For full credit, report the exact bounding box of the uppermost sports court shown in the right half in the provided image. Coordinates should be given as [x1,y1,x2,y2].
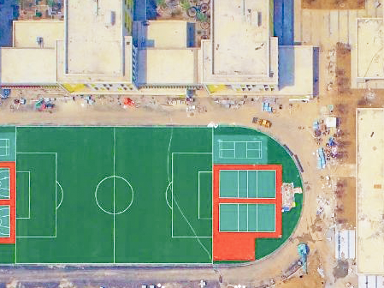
[213,135,267,164]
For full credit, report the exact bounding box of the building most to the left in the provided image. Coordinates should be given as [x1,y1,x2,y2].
[0,20,63,95]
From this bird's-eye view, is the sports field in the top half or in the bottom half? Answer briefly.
bottom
